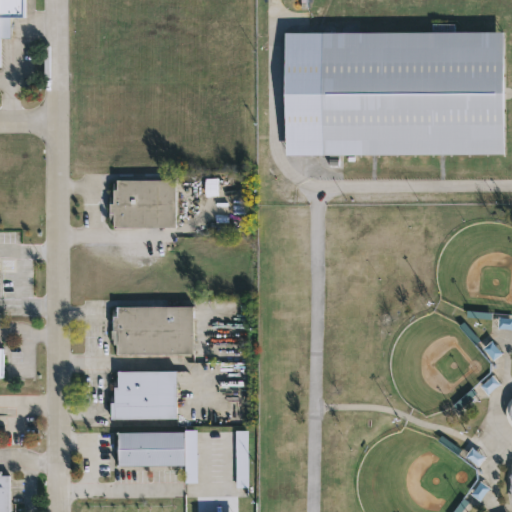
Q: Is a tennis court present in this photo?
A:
No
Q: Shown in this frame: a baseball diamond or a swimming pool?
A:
baseball diamond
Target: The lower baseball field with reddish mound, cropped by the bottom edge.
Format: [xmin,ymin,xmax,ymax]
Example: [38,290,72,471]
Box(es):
[357,427,478,512]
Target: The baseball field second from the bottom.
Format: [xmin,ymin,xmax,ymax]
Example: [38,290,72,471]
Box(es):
[390,310,491,417]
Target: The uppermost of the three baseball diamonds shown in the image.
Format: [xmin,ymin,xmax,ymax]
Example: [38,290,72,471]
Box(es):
[436,222,512,312]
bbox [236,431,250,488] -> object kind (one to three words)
shed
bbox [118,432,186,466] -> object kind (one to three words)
building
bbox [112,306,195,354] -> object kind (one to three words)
building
